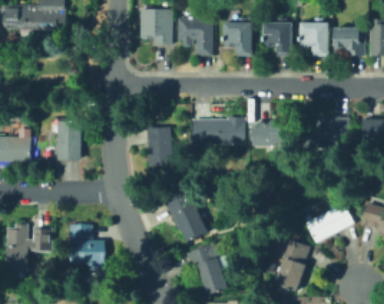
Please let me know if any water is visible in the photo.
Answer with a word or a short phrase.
No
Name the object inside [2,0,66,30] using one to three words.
house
